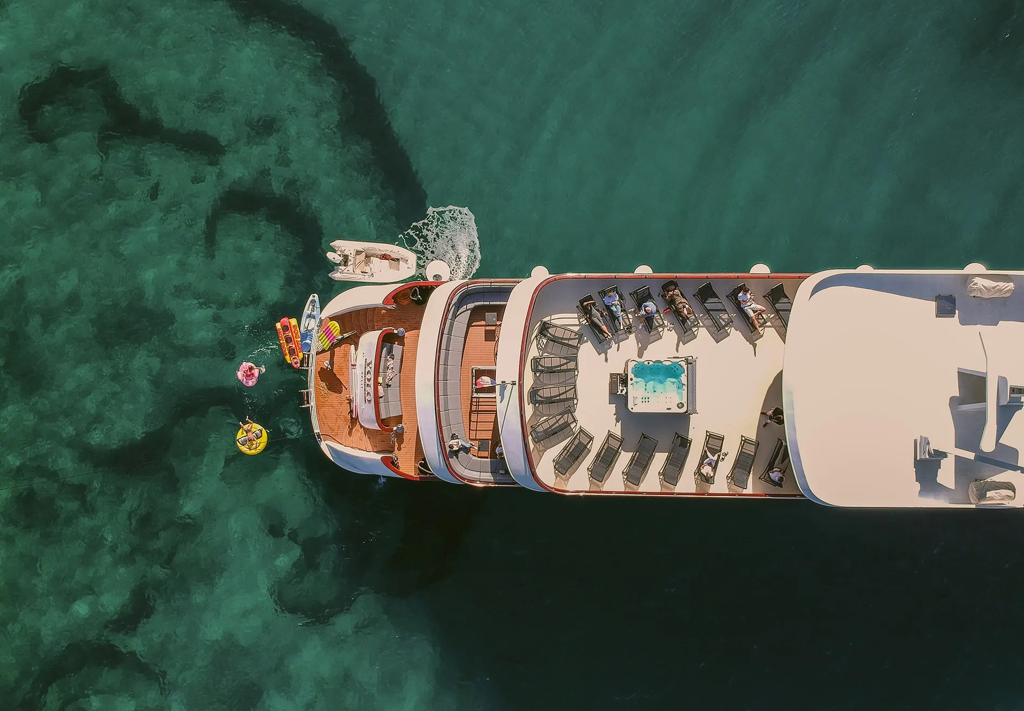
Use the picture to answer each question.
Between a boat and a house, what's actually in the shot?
boat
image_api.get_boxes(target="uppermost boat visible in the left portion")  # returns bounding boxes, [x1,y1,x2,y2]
[327,240,417,282]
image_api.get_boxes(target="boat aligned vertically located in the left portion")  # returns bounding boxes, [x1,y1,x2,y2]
[299,294,319,352]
